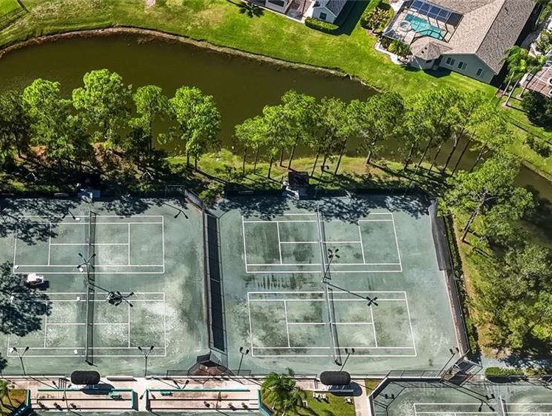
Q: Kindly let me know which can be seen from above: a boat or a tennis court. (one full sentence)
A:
This aerial view contains a tennis court.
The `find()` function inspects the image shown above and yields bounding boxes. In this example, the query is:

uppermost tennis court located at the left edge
[0,195,206,283]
